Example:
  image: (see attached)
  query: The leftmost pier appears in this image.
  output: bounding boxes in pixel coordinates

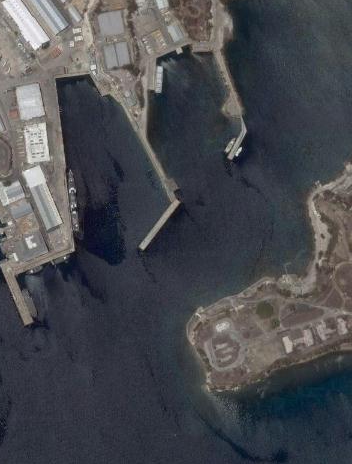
[0,259,33,326]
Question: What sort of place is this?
port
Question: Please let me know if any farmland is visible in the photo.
No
